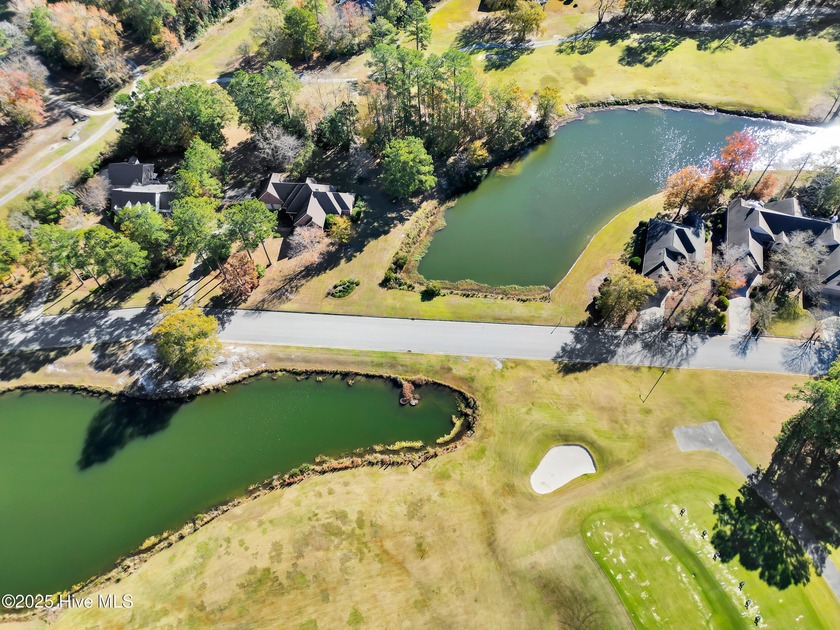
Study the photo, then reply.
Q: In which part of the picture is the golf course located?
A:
bottom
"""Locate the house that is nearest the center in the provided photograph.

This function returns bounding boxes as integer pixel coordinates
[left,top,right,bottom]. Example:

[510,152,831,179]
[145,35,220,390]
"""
[258,171,358,240]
